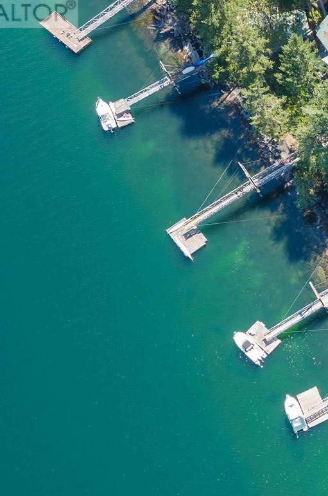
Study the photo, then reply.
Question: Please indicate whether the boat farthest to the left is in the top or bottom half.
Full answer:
The boat farthest to the left sits in the top half of the picture.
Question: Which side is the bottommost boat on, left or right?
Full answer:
It is on the right.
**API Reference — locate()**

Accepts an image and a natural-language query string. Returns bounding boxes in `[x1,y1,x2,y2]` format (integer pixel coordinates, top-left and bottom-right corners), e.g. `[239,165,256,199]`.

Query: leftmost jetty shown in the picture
[39,12,92,54]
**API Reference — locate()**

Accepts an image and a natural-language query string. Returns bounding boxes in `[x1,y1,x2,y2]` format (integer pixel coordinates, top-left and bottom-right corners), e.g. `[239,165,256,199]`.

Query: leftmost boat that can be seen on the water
[95,98,117,132]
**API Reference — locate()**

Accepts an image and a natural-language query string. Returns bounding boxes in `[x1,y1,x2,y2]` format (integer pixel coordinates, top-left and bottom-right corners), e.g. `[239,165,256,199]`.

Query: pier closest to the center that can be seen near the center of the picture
[166,218,209,255]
